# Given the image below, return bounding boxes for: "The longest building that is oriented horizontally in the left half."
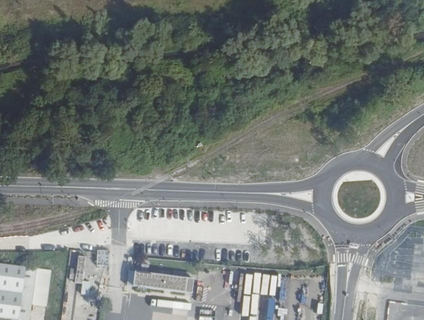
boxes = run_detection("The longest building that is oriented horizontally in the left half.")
[134,272,193,293]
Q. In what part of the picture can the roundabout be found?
right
